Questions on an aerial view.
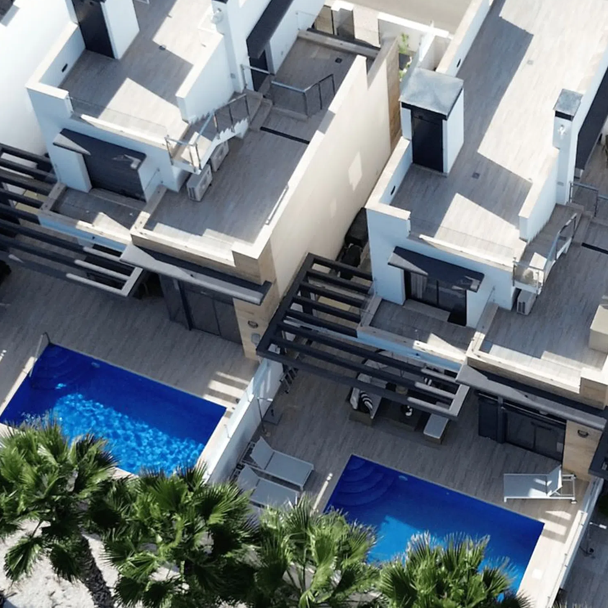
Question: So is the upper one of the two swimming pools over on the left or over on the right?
left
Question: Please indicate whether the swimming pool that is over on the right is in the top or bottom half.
bottom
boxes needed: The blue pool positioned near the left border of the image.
[0,339,223,481]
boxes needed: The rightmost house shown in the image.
[357,0,608,475]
